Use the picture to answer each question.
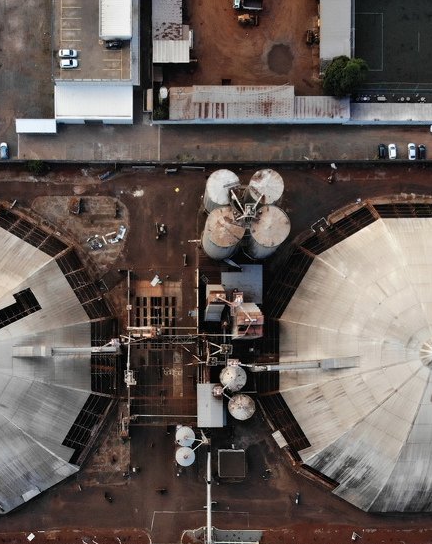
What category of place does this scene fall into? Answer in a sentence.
It's an industrial area.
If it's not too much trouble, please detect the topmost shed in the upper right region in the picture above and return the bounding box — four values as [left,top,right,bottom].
[317,0,351,81]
